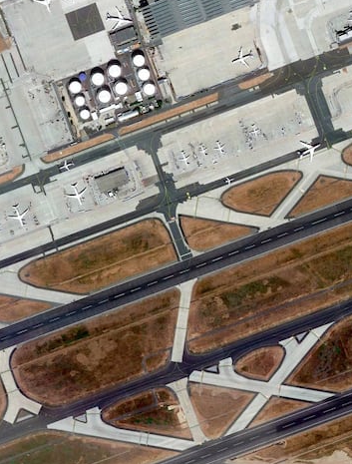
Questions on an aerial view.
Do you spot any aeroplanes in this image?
Yes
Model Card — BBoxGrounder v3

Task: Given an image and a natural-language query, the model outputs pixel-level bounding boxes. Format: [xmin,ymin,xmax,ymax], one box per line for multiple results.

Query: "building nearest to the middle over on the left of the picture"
[94,166,130,193]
